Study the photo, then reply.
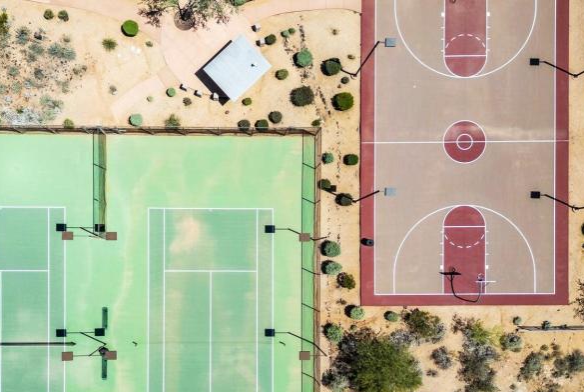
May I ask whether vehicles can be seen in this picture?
No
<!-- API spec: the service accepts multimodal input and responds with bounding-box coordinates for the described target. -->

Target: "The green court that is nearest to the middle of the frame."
[105,134,314,392]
